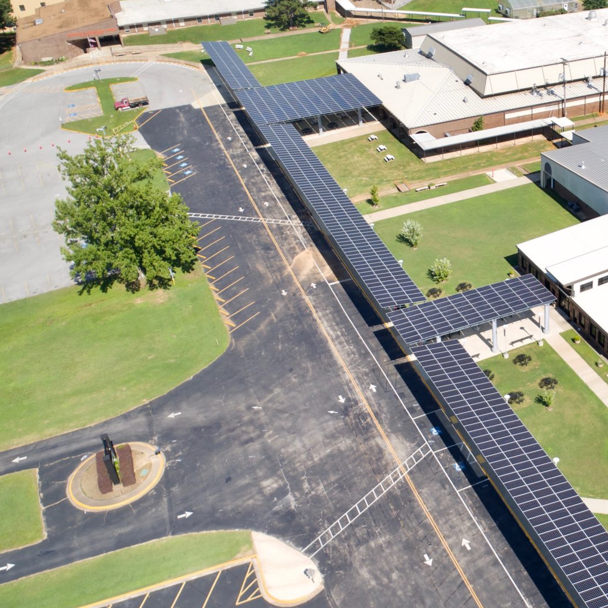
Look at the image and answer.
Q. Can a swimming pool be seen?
No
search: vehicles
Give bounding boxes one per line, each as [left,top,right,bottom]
[318,19,339,32]
[111,93,148,110]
